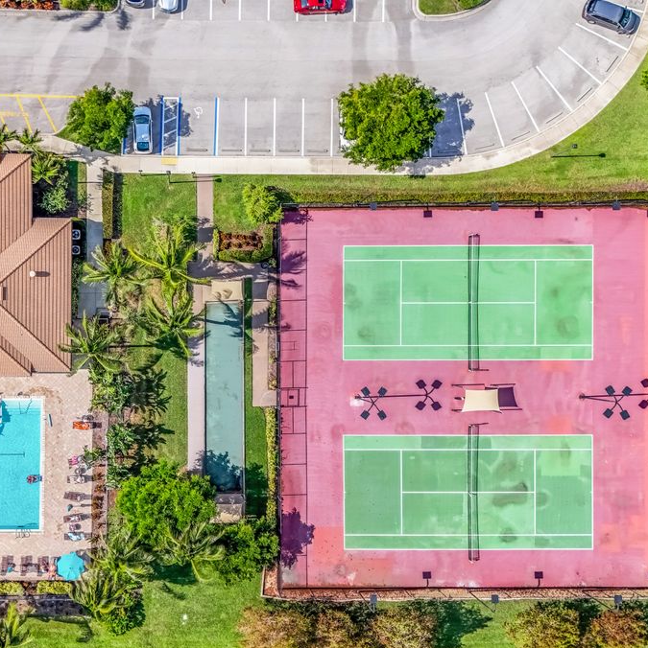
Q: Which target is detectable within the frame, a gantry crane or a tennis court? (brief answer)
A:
tennis court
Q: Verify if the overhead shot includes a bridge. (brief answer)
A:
No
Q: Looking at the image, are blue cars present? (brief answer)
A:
Yes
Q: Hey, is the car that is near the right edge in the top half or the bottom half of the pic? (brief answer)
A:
top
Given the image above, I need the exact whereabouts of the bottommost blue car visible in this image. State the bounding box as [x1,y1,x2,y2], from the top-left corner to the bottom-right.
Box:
[133,106,155,155]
